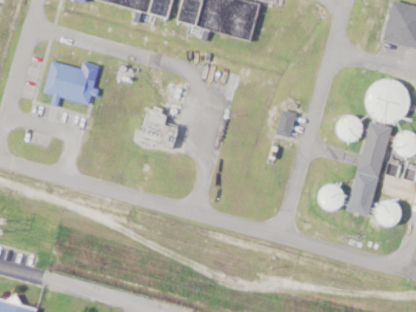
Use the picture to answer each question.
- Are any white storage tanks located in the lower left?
No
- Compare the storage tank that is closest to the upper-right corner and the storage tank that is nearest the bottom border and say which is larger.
the storage tank that is closest to the upper-right corner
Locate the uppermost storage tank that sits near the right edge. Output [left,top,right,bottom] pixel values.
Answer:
[364,78,411,124]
